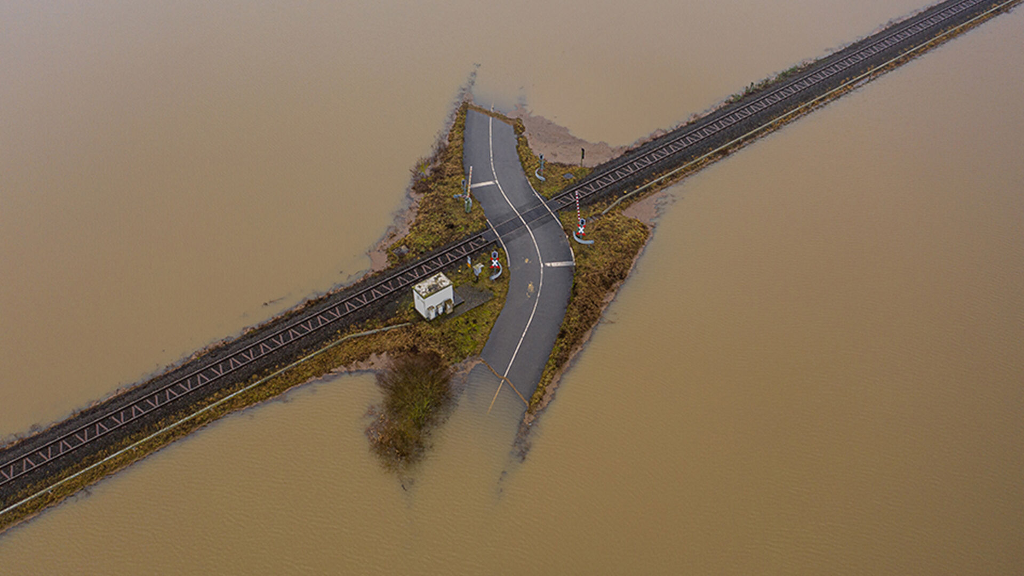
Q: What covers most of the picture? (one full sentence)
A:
The scene is dominated by water.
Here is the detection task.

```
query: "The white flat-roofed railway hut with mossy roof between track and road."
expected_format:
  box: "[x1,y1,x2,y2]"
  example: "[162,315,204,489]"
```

[413,270,452,313]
